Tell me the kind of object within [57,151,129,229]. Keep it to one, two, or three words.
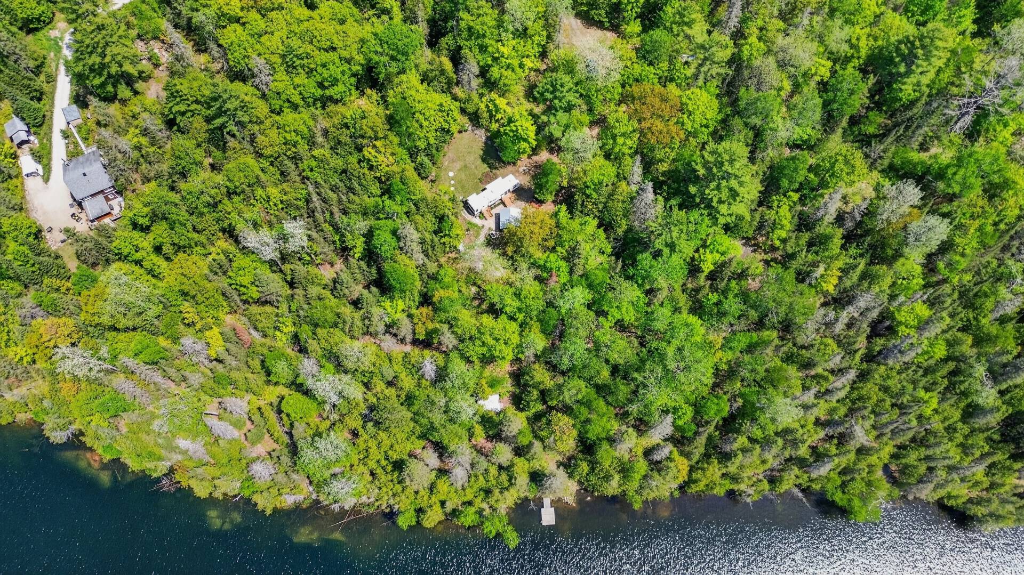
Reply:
house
